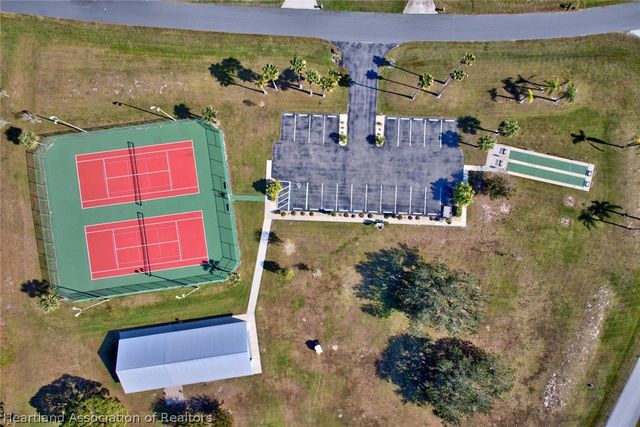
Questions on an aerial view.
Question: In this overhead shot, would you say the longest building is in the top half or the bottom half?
bottom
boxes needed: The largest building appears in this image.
[116,321,254,393]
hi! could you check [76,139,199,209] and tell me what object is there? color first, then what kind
red tennis court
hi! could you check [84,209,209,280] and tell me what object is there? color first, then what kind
red tennis court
